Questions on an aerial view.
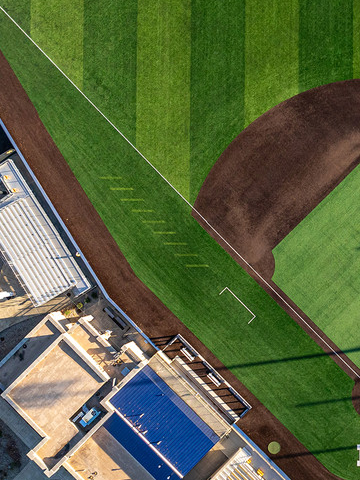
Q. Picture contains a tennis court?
No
